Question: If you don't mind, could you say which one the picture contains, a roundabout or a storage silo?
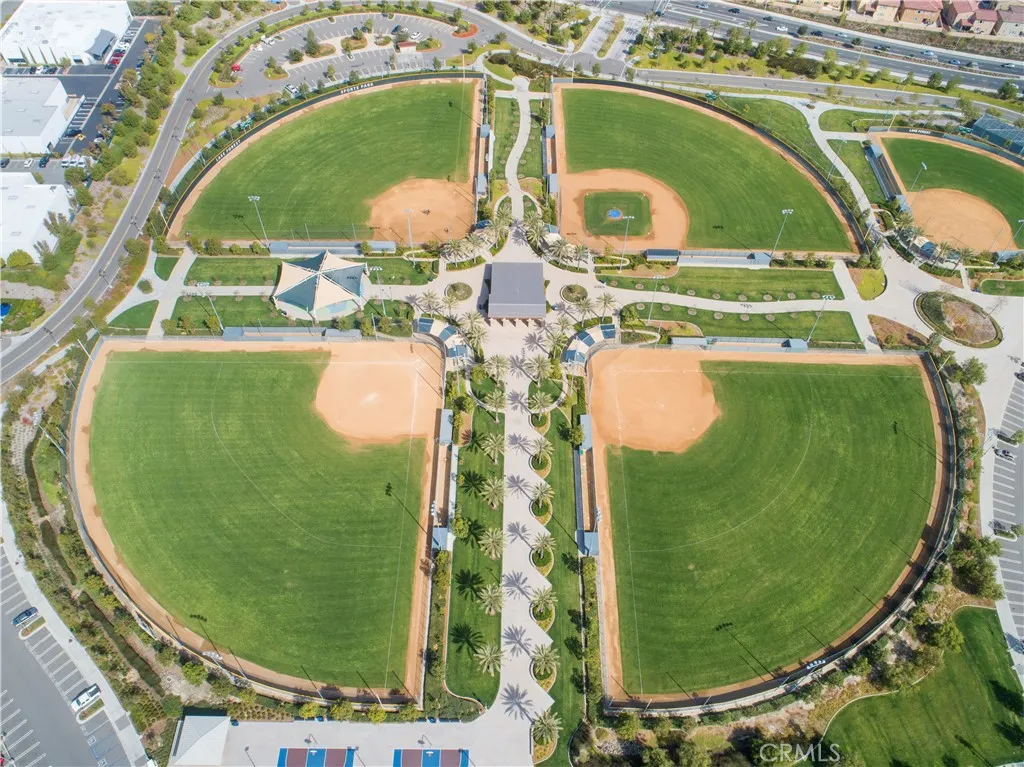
roundabout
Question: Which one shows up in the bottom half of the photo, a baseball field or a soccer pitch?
baseball field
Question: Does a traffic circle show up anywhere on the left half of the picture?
No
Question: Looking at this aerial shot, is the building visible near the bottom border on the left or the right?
left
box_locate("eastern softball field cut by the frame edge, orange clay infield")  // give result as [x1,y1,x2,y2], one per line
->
[871,131,1024,253]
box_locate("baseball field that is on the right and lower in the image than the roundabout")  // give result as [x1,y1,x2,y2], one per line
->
[587,347,952,715]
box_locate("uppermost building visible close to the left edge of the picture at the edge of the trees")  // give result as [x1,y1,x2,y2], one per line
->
[0,1,136,64]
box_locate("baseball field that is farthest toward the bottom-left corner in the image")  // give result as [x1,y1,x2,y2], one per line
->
[74,338,443,708]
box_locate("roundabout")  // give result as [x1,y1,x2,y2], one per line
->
[915,289,1004,347]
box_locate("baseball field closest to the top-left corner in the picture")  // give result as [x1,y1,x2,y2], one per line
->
[168,76,482,244]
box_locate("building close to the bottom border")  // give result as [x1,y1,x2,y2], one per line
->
[171,716,231,767]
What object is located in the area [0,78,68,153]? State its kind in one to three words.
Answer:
building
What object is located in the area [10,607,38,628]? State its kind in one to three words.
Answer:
car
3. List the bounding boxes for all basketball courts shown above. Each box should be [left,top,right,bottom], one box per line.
[276,748,355,767]
[392,748,469,767]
